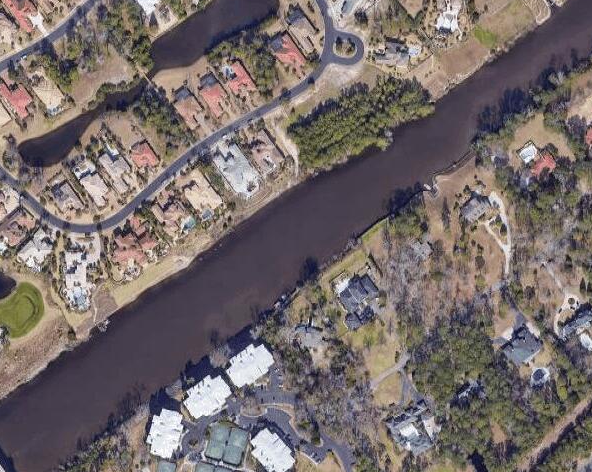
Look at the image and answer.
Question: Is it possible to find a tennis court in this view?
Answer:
Yes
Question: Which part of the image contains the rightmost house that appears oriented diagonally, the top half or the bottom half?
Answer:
bottom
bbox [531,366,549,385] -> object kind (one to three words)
swimming pool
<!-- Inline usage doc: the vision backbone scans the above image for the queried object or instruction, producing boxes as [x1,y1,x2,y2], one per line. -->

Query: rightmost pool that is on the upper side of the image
[517,141,539,163]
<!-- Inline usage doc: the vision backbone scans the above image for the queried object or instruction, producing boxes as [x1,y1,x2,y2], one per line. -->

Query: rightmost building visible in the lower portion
[561,313,592,342]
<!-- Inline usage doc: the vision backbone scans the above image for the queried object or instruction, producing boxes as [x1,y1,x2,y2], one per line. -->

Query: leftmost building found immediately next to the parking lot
[148,408,183,456]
